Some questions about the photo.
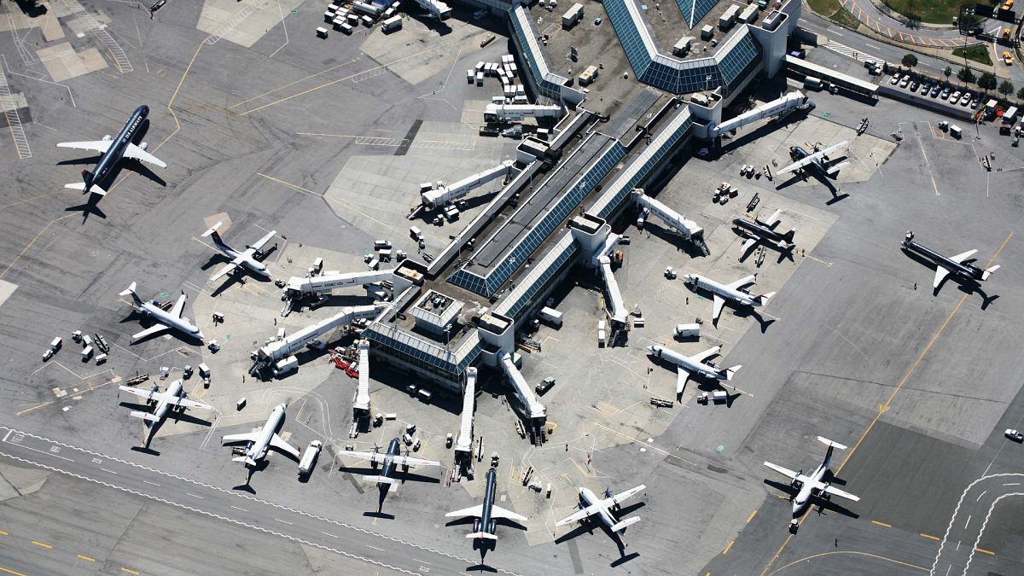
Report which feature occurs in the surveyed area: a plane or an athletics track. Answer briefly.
plane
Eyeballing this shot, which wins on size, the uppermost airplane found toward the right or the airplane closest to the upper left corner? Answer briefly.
the airplane closest to the upper left corner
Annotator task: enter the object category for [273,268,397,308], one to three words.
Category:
jet bridge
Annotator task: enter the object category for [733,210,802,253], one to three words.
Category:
airplane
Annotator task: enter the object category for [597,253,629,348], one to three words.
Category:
jet bridge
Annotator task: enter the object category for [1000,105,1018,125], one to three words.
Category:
vehicle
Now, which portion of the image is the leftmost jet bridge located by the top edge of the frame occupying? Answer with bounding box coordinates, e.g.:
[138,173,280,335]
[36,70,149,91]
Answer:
[418,0,448,35]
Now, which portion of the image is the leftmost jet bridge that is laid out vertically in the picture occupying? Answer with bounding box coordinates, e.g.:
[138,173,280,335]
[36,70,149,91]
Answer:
[353,336,372,435]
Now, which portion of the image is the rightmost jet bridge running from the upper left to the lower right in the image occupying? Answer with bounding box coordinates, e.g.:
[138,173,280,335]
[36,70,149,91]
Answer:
[630,184,708,257]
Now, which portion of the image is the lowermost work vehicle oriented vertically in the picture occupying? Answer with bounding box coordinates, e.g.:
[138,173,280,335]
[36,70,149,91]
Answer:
[788,513,800,536]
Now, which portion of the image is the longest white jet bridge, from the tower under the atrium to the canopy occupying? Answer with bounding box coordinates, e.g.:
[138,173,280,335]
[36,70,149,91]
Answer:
[703,89,814,150]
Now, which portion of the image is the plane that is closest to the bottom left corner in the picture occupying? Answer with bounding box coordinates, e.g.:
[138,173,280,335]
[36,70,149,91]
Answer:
[118,378,212,430]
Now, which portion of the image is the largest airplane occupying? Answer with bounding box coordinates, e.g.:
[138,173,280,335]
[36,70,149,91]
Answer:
[56,108,169,196]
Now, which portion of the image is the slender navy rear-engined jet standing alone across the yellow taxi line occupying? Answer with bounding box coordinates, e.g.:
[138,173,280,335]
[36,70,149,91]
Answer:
[902,241,1001,287]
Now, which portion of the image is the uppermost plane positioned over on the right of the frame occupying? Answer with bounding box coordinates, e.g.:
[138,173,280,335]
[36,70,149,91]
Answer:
[775,139,849,181]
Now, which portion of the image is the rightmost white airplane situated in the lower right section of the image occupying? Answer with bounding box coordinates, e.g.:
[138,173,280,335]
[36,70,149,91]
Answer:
[764,438,861,512]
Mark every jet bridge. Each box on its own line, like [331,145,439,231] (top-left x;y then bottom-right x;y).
[425,157,516,223]
[418,0,448,35]
[630,184,708,257]
[353,336,372,435]
[255,304,382,385]
[703,89,814,150]
[479,102,561,129]
[501,348,545,446]
[273,268,397,308]
[453,364,479,479]
[597,253,629,348]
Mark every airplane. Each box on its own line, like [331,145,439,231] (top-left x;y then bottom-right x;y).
[775,139,849,181]
[648,345,741,393]
[118,378,212,430]
[220,405,299,466]
[684,273,775,319]
[203,222,277,280]
[445,468,527,545]
[120,283,203,341]
[554,484,647,537]
[764,438,861,512]
[733,210,802,253]
[56,108,169,196]
[338,437,441,493]
[902,241,1001,287]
